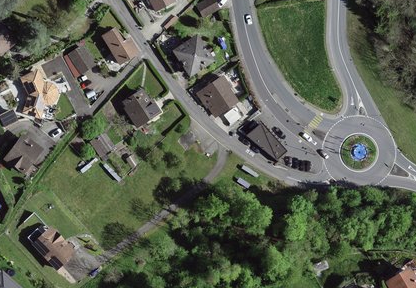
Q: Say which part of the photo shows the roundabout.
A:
right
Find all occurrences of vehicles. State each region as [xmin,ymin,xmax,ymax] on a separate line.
[302,132,314,142]
[300,160,305,170]
[238,136,250,146]
[248,120,258,129]
[238,126,248,135]
[274,126,284,138]
[250,144,260,153]
[50,128,62,138]
[320,150,330,160]
[246,14,252,26]
[306,160,311,172]
[84,90,98,99]
[286,156,291,166]
[292,157,298,170]
[80,80,92,88]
